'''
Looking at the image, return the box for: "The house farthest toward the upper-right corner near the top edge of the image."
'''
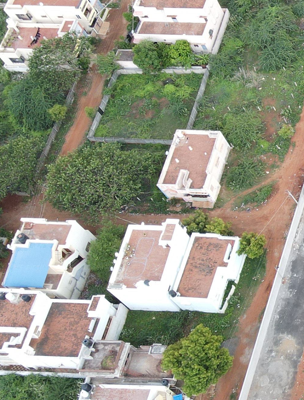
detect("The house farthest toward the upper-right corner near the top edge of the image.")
[135,0,227,53]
